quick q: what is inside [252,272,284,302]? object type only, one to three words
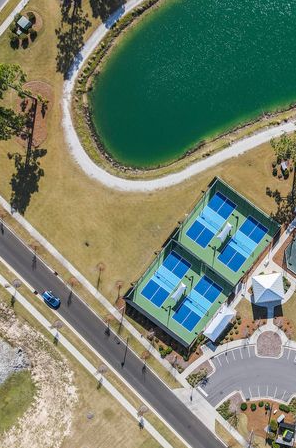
building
